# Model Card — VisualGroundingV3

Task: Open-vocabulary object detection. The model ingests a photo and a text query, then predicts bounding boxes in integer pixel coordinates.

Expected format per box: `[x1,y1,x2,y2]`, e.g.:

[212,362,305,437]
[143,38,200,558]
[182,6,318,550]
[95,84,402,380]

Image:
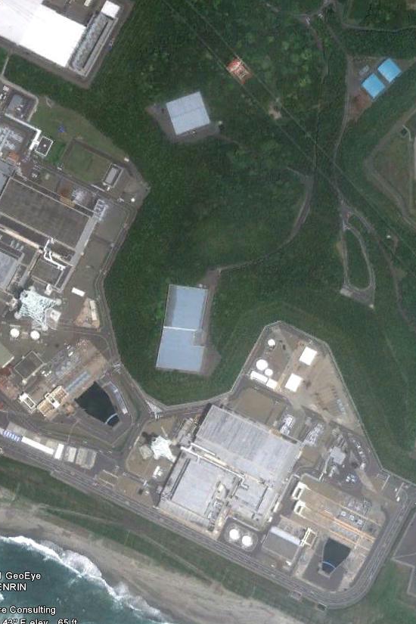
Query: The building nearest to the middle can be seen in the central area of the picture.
[155,284,208,373]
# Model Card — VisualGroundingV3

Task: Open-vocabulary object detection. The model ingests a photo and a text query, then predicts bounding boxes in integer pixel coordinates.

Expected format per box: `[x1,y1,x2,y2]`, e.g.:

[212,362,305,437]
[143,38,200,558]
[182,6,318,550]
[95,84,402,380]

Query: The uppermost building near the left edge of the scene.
[0,0,86,69]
